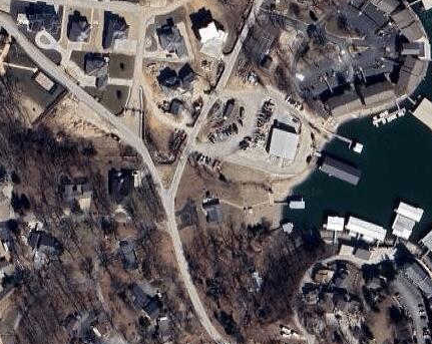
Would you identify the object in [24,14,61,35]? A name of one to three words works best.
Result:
house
